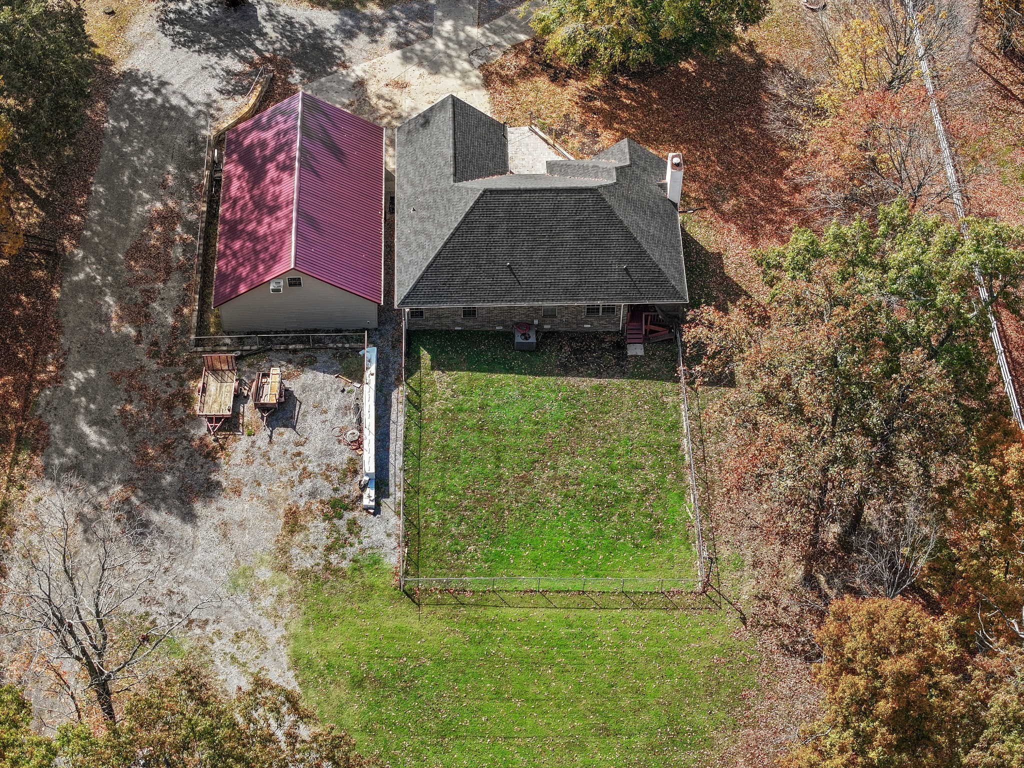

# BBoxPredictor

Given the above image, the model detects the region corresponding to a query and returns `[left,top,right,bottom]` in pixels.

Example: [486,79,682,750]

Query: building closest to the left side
[211,90,386,331]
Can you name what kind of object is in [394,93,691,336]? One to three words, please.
house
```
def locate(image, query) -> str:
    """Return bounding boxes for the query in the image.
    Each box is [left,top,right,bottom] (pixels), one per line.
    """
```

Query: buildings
[211,90,386,331]
[394,93,691,336]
